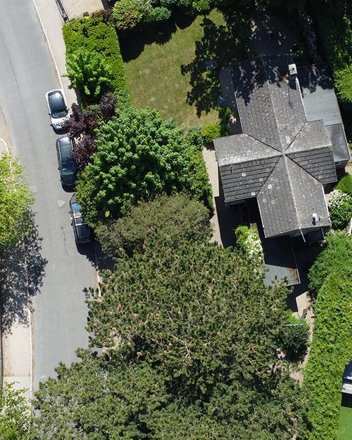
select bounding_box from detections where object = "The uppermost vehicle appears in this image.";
[44,88,70,134]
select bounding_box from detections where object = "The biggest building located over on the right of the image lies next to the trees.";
[214,53,350,241]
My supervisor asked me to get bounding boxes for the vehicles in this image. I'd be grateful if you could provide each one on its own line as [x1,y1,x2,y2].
[65,191,96,247]
[44,88,70,134]
[52,136,81,194]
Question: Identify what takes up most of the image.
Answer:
trees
